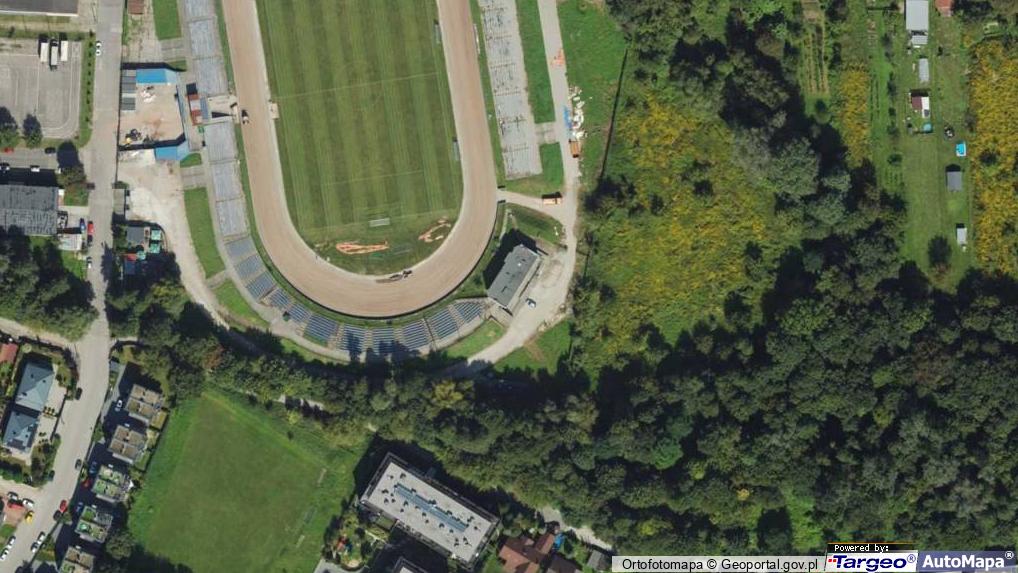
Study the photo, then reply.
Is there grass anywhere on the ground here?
Yes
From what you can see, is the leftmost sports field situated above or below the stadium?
below it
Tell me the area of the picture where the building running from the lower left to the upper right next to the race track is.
center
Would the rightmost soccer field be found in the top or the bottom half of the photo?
top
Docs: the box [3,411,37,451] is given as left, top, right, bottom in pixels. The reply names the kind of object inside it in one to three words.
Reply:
house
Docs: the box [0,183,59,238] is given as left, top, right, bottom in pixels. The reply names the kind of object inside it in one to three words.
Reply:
building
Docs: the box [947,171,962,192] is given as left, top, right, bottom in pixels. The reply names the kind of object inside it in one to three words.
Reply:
shed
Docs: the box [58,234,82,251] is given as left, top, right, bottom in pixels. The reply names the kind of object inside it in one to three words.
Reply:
shed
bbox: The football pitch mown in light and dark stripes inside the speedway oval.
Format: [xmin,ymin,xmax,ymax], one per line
[265,0,459,232]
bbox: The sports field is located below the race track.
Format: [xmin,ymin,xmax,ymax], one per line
[136,396,360,573]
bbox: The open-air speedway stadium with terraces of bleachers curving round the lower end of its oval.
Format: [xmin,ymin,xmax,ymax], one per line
[177,0,543,366]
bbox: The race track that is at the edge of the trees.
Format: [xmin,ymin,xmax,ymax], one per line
[223,0,497,317]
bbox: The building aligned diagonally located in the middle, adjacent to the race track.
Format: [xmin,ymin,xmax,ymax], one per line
[487,243,543,309]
